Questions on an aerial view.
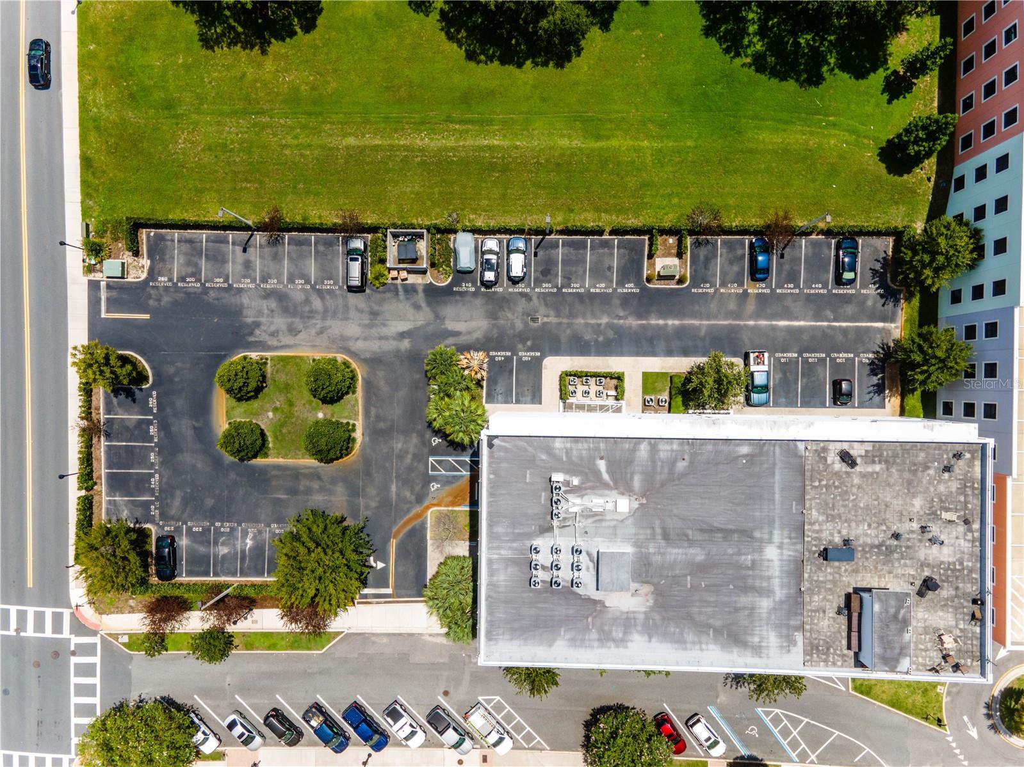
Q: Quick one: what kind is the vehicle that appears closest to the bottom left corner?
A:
automobile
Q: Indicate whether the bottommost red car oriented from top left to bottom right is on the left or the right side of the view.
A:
right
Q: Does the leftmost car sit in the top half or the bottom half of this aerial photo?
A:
top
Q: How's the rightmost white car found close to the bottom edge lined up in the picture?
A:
on a diagonal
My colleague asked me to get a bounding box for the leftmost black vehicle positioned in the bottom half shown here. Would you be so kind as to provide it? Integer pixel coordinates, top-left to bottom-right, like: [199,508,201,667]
[154,532,181,583]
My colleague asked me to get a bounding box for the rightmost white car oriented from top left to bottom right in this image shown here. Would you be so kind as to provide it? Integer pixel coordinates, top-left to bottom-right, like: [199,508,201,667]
[683,708,726,758]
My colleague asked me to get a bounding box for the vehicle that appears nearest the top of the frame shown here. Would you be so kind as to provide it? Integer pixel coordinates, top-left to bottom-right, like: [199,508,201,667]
[24,39,55,90]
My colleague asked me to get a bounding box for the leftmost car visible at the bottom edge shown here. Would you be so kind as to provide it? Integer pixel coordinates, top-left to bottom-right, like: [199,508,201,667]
[176,705,224,754]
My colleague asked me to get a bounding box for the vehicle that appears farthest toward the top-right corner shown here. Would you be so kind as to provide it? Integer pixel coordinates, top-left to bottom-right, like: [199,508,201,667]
[833,237,860,287]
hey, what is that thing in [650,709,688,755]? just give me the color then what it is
red car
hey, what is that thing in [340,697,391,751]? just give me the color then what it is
blue truck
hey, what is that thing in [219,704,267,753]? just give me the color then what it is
white car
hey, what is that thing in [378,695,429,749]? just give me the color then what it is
white truck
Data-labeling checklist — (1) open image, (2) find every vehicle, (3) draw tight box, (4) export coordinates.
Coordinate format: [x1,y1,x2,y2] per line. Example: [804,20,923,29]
[342,238,368,292]
[830,377,854,406]
[219,704,267,753]
[650,709,688,755]
[24,39,55,90]
[378,695,429,749]
[340,697,391,751]
[299,697,353,754]
[176,705,224,754]
[745,348,772,408]
[683,708,726,758]
[833,237,860,287]
[424,696,475,751]
[259,701,307,749]
[747,234,773,285]
[459,695,512,753]
[506,237,529,282]
[477,238,502,288]
[154,532,181,583]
